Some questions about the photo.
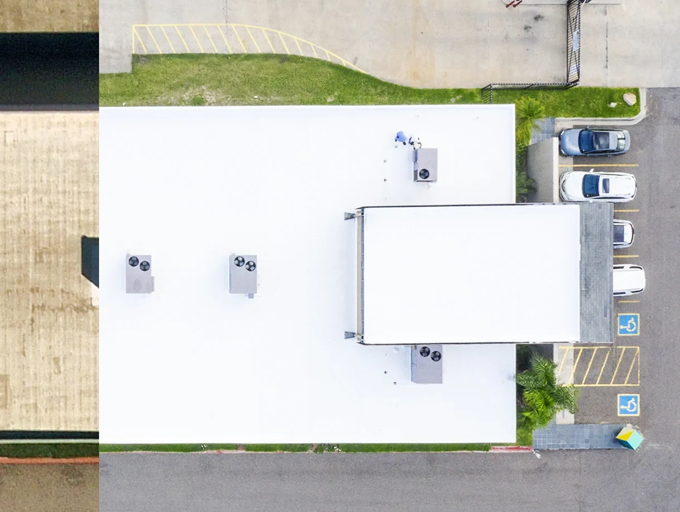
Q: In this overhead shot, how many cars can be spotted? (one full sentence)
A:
There are 4 cars in the image.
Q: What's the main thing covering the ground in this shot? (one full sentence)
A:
The bulk of the photo consists of buildings.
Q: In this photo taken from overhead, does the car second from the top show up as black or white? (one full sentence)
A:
From above, the car second from the top appears white.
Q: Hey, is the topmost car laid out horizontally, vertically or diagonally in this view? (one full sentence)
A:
The topmost car is oriented horizontally.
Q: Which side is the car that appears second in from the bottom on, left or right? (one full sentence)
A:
The car that appears second in from the bottom is on the right side of the image.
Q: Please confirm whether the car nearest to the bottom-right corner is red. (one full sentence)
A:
No, from above the car nearest to the bottom-right corner looks white.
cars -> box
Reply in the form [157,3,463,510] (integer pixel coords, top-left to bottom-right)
[560,168,637,203]
[560,124,631,158]
[612,264,647,295]
[612,219,635,248]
